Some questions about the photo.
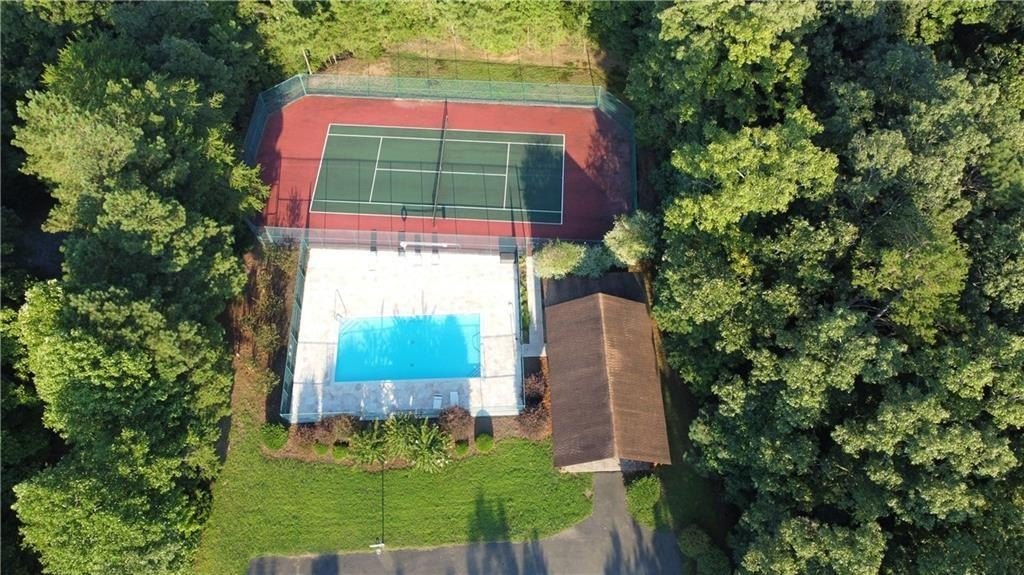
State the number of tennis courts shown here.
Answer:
one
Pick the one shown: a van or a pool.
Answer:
pool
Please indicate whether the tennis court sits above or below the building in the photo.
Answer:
above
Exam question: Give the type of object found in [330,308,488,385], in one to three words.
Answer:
swimming pool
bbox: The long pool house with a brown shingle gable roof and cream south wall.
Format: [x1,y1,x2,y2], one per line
[544,293,673,472]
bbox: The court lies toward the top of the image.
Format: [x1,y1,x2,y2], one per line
[245,90,639,258]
